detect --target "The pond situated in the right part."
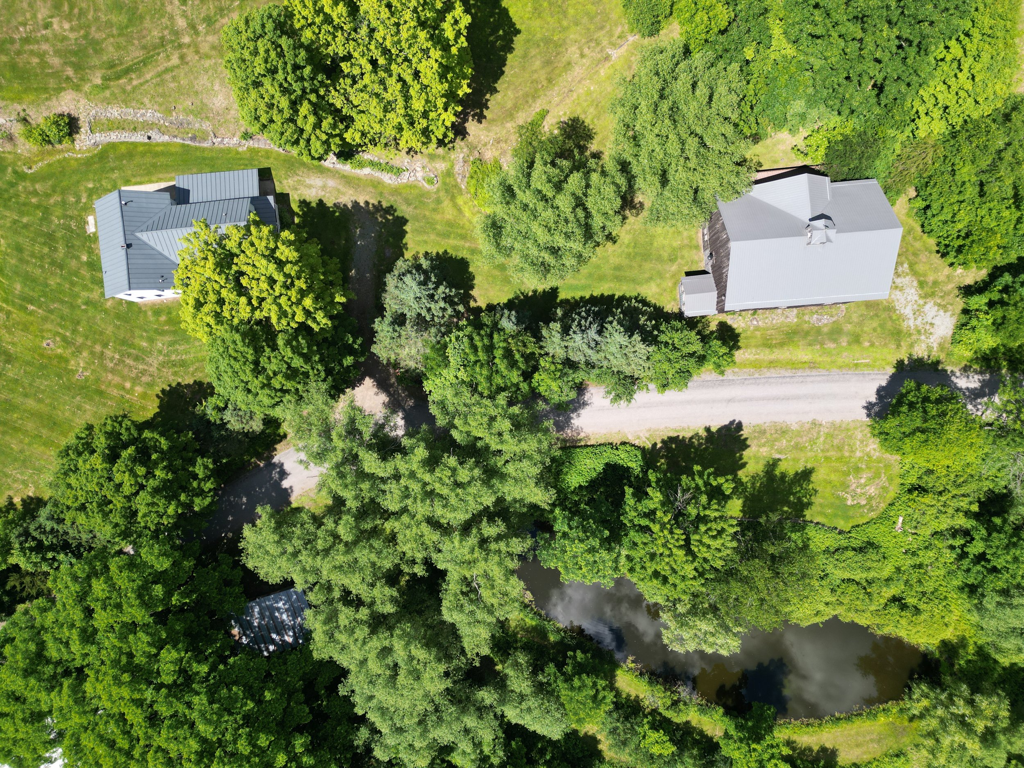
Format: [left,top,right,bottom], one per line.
[511,510,934,724]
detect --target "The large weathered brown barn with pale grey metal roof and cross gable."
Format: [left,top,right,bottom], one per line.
[677,165,904,317]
